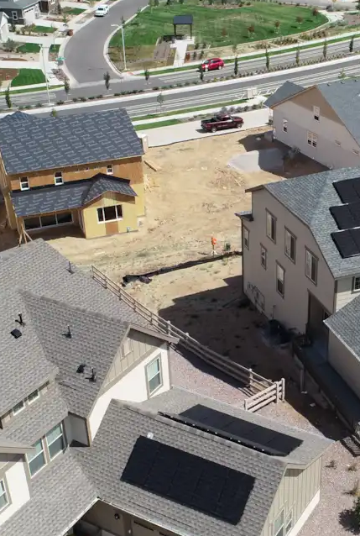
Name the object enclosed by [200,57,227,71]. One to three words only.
vehicle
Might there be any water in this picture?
No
